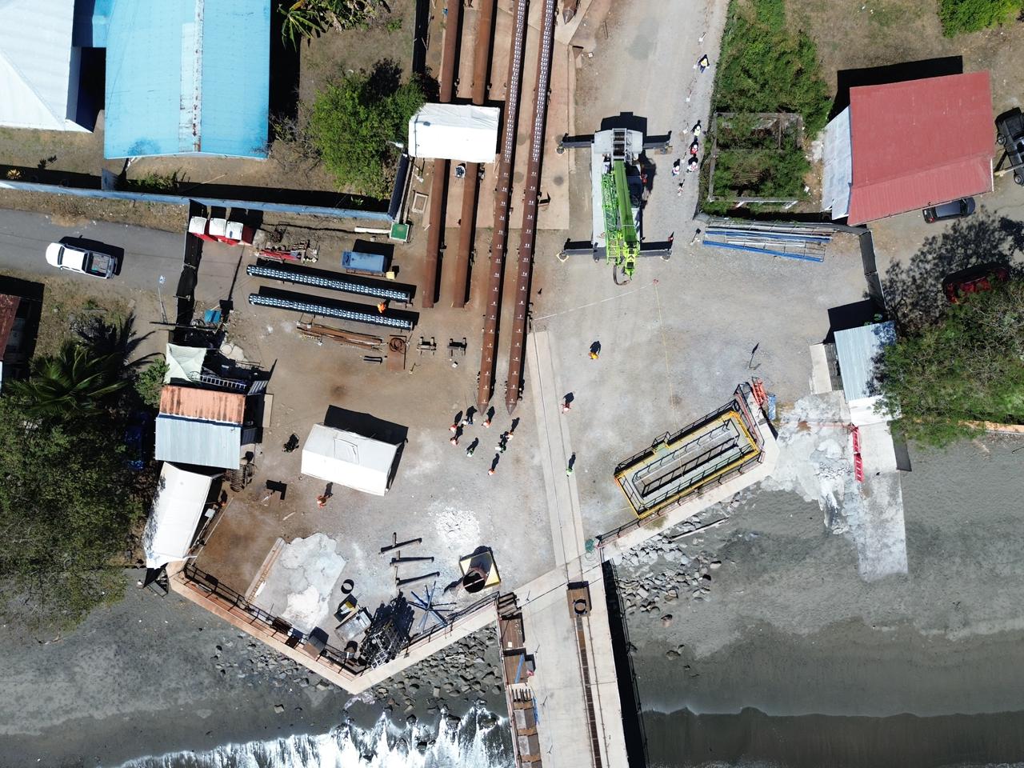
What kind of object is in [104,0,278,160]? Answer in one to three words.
house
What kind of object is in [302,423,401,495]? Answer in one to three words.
tent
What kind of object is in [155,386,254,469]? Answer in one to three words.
shed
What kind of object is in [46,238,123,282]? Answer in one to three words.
truck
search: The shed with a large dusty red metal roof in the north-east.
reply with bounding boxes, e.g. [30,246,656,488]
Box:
[825,71,995,230]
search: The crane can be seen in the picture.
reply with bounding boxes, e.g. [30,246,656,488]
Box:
[553,127,677,285]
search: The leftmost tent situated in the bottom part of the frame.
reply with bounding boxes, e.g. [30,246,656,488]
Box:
[145,461,227,569]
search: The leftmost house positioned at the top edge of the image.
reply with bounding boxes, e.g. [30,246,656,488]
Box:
[0,0,94,133]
